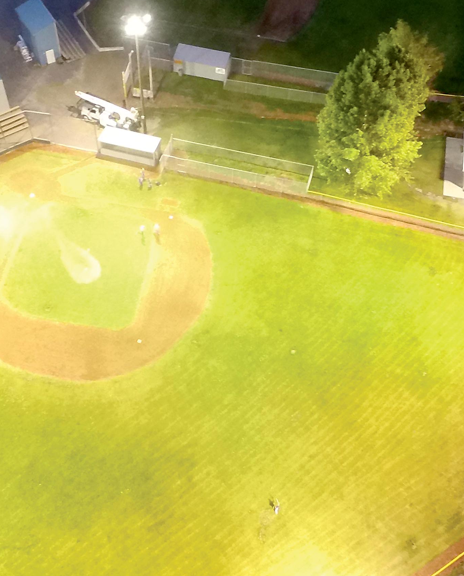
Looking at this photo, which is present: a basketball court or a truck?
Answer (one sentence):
Visible in the photo is a truck.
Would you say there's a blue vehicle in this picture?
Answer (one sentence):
No, I find no blue vehicle anywhere in the image.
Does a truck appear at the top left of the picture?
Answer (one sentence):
Yes, a truck is visible at the top left of the picture.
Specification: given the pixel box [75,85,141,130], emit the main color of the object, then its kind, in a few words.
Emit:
white truck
